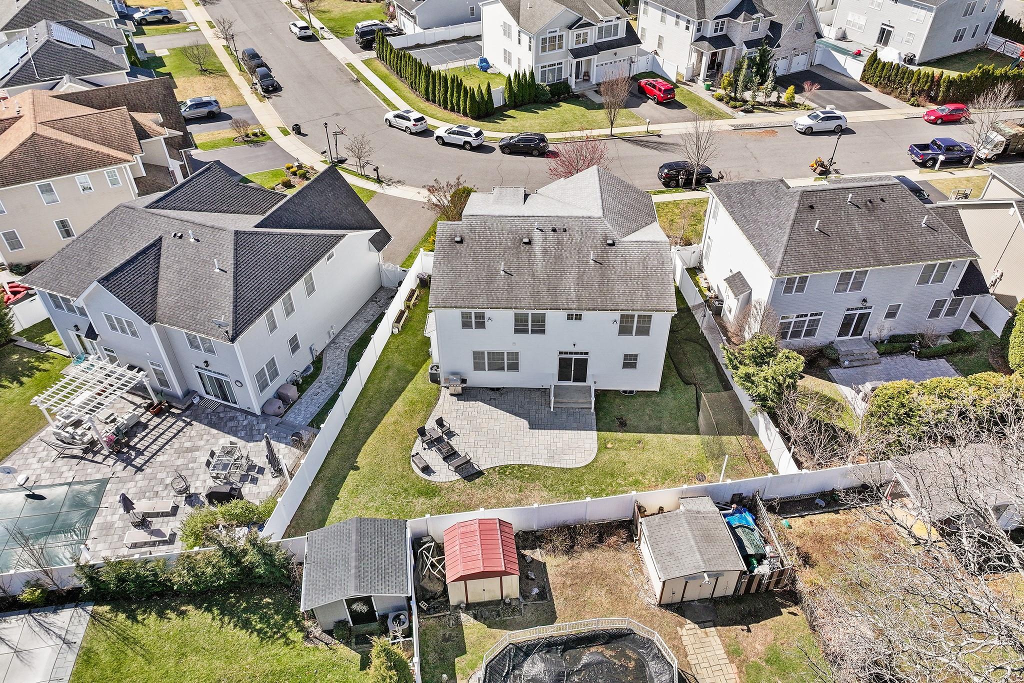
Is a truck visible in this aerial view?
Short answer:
Yes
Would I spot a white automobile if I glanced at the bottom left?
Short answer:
No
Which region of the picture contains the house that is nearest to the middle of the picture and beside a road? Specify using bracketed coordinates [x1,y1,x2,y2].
[420,165,678,414]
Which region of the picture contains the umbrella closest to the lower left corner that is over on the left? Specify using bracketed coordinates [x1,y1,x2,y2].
[117,494,140,527]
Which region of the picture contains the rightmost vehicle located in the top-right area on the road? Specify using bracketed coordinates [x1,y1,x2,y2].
[971,116,1024,160]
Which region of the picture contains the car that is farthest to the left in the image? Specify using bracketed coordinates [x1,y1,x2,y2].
[147,4,175,22]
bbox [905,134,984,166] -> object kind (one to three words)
truck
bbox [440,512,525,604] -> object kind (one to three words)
shed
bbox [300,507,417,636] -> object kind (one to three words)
shed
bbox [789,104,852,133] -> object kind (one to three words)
car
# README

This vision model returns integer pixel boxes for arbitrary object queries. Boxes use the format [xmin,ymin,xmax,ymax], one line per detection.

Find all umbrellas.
[262,434,283,476]
[117,494,140,527]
